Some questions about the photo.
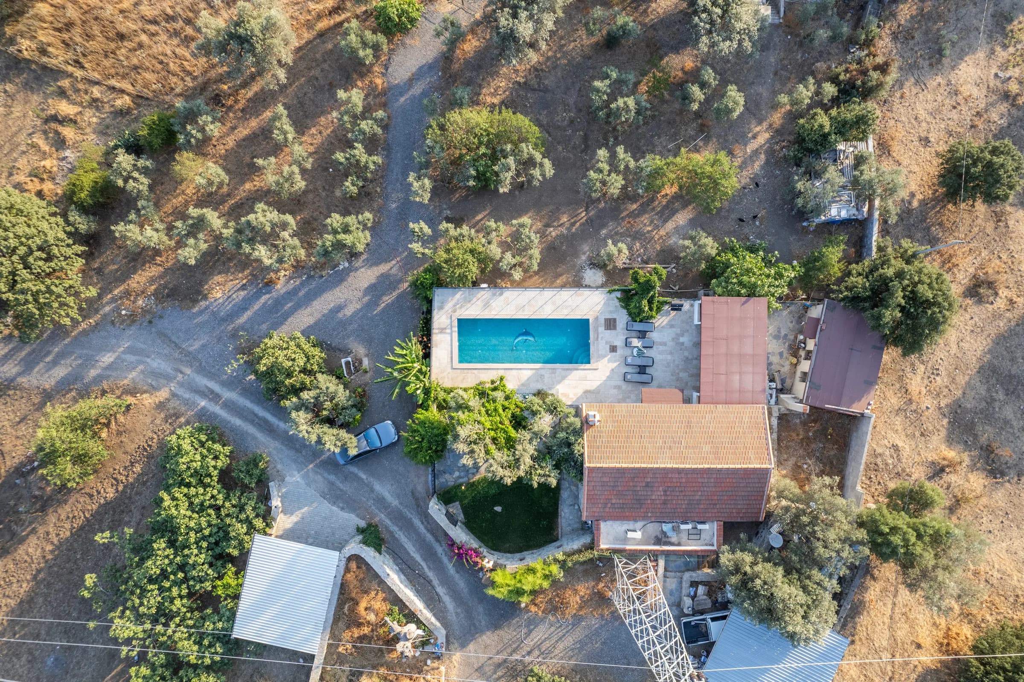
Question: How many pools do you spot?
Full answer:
My tally gives 1 pool in this photo.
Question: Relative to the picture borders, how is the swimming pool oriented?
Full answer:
The swimming pool runs horizontally in the image.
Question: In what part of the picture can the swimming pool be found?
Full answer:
You can find the swimming pool in the center area of the picture.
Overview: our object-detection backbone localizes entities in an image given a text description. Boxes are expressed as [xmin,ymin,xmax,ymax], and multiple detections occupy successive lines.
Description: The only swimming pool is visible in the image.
[453,315,598,368]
